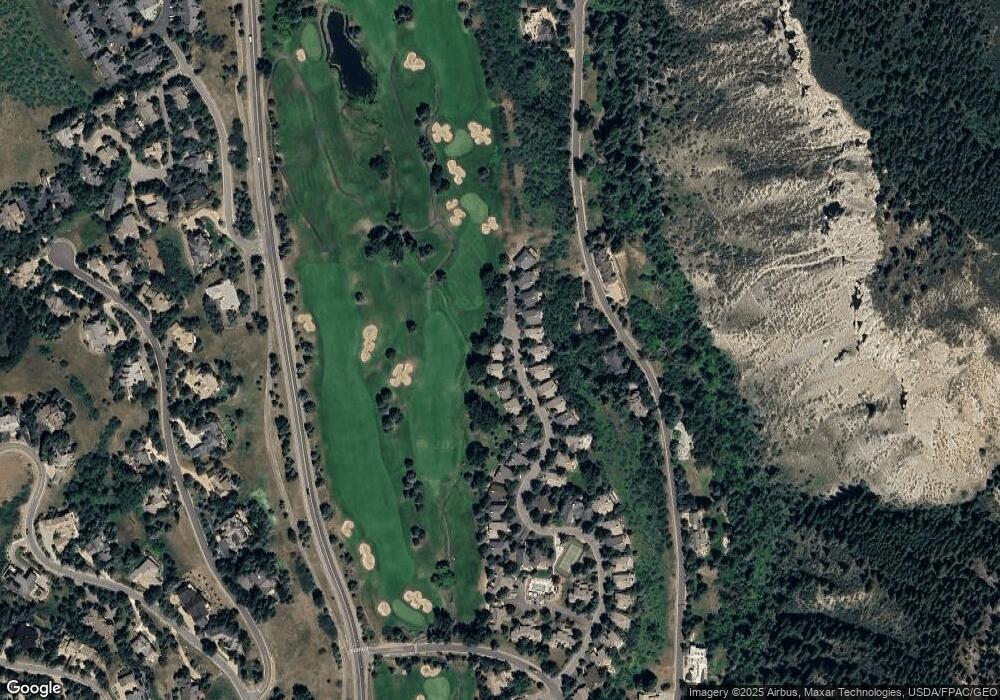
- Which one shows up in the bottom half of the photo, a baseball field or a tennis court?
tennis court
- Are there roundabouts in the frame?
No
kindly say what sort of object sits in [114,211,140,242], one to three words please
house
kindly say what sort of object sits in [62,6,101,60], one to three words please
house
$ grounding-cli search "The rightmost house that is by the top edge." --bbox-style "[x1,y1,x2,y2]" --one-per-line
[535,16,564,41]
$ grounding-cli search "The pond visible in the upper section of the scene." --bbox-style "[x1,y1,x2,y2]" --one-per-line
[329,13,375,101]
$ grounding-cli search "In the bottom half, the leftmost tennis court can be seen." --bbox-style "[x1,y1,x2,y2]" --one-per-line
[556,538,583,576]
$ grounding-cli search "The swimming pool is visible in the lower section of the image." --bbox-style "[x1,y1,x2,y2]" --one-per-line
[524,575,558,601]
